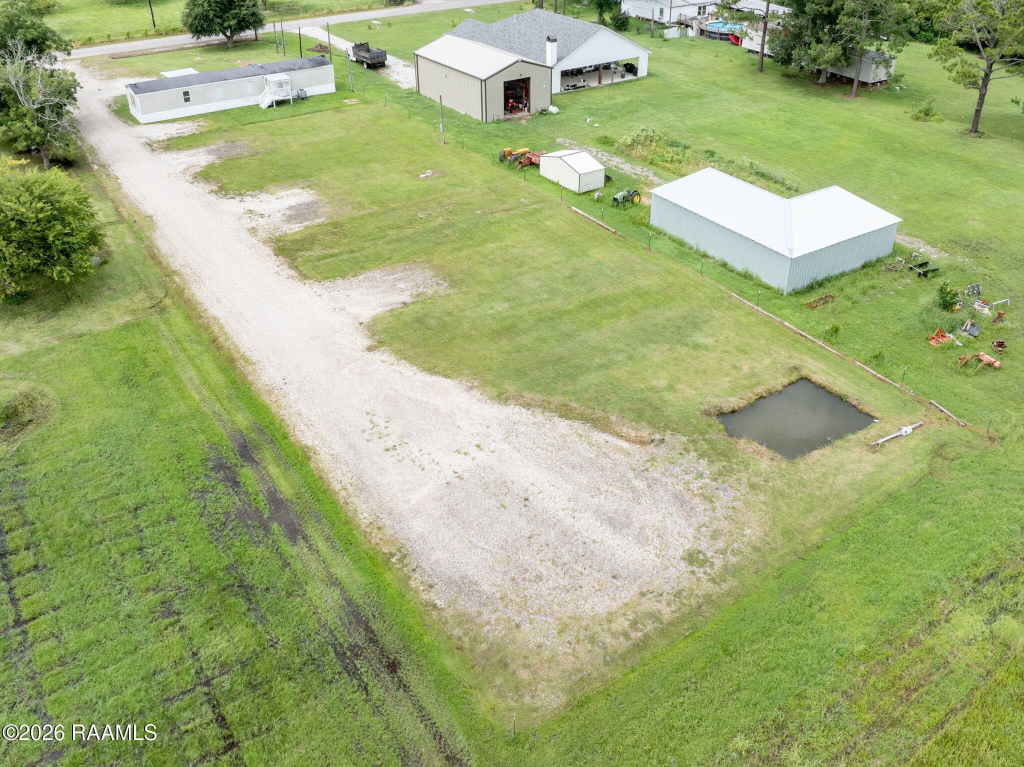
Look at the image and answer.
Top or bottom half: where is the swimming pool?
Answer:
top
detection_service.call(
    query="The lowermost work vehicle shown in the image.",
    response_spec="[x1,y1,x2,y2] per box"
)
[608,183,643,207]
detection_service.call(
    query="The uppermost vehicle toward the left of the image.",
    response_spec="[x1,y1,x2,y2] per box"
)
[352,42,390,68]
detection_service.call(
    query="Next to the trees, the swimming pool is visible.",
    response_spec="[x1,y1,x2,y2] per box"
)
[696,19,744,42]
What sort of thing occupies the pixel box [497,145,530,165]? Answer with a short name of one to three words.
work vehicle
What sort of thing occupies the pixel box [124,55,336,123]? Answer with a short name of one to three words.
house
